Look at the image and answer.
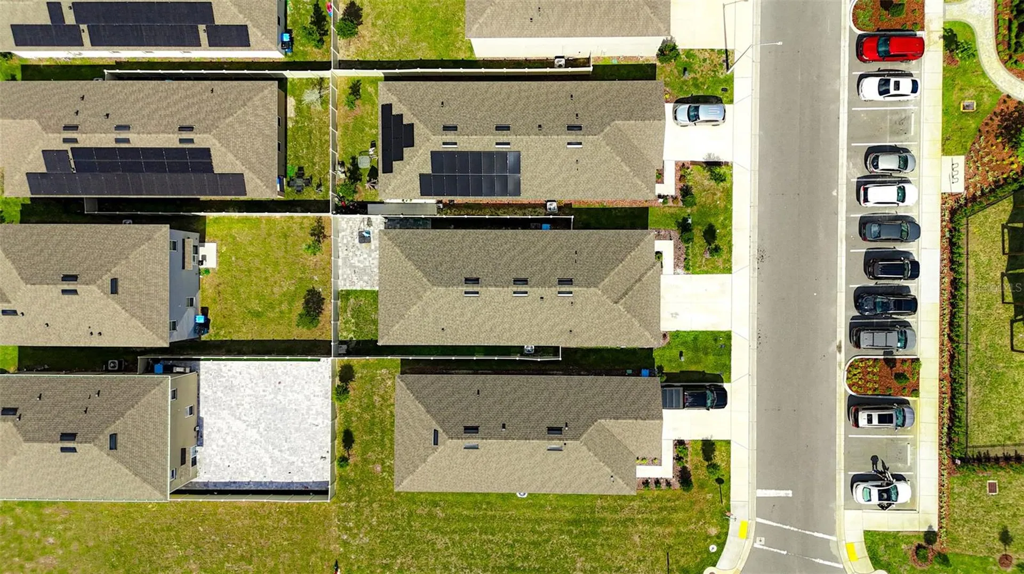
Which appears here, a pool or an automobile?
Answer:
automobile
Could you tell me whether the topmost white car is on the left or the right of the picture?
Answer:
right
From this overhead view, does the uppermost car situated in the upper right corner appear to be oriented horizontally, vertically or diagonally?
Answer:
horizontally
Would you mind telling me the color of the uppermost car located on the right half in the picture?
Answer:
red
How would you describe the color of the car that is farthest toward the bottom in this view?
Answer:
white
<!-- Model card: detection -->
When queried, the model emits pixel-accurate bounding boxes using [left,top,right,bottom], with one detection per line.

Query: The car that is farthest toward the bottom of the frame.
[852,468,909,514]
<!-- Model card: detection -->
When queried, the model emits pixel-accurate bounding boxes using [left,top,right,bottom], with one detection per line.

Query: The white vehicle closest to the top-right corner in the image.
[857,73,916,102]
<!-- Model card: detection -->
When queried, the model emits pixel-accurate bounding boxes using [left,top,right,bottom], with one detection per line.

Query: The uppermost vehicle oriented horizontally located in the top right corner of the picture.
[857,32,924,64]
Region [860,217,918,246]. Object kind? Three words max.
car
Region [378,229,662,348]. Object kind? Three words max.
house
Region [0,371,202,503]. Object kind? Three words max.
house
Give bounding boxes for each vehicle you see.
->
[856,290,915,320]
[849,402,913,432]
[857,73,916,102]
[852,468,909,514]
[866,255,918,284]
[851,324,915,354]
[860,217,918,246]
[673,99,725,128]
[857,32,924,64]
[664,383,727,415]
[866,148,913,176]
[859,180,916,209]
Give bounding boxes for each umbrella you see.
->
[364,168,378,190]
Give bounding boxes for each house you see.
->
[0,80,285,198]
[465,0,671,56]
[0,223,200,348]
[394,375,667,494]
[378,80,669,200]
[0,371,202,503]
[378,229,662,348]
[0,0,286,57]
